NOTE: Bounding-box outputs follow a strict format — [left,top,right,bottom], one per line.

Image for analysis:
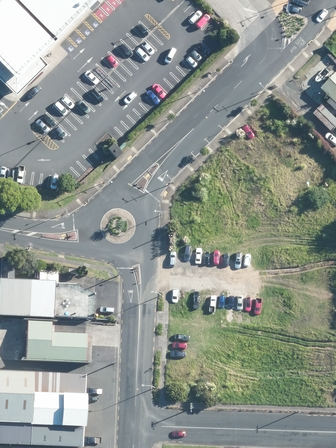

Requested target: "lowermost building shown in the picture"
[0,422,86,446]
